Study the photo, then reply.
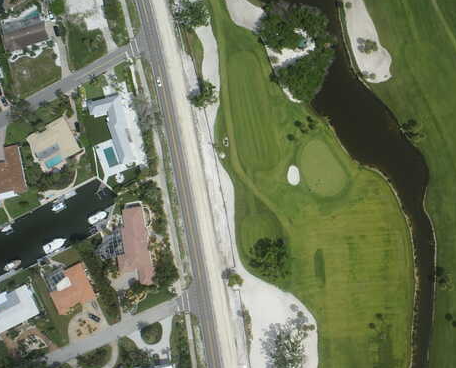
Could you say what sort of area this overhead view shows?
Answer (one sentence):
The area seen from above is a golf course.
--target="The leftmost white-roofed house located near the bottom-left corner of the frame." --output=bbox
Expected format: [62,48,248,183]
[0,285,41,332]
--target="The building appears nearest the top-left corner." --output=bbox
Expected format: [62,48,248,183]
[1,19,50,51]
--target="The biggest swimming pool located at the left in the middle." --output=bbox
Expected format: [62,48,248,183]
[103,145,119,169]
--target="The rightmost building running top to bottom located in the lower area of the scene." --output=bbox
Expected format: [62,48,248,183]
[119,205,156,280]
